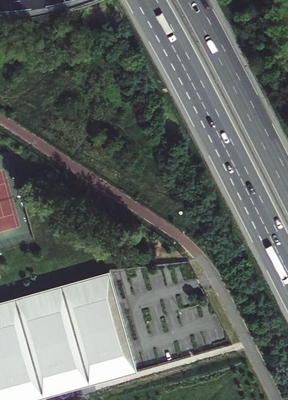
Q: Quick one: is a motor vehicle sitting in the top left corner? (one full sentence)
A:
No, there is no motor vehicle in the top left corner.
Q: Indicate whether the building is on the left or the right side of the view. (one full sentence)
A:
The building sits on the left side.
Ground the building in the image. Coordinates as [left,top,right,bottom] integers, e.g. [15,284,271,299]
[0,272,136,400]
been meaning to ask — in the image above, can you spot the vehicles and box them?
[220,132,230,144]
[266,245,288,285]
[165,350,171,362]
[246,182,254,195]
[191,2,200,14]
[206,116,215,129]
[158,13,178,44]
[225,162,234,175]
[200,0,210,10]
[272,234,280,246]
[274,218,283,230]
